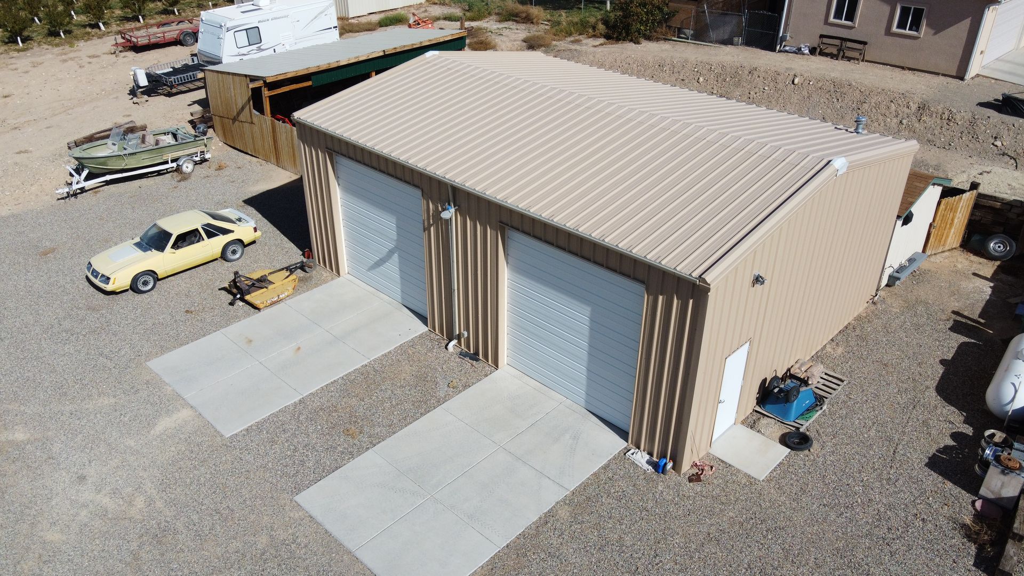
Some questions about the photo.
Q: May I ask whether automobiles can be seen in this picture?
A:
Yes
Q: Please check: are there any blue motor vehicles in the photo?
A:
No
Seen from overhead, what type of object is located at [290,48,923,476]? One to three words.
building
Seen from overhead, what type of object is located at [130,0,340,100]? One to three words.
trailer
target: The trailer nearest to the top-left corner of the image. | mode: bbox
[104,16,199,55]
